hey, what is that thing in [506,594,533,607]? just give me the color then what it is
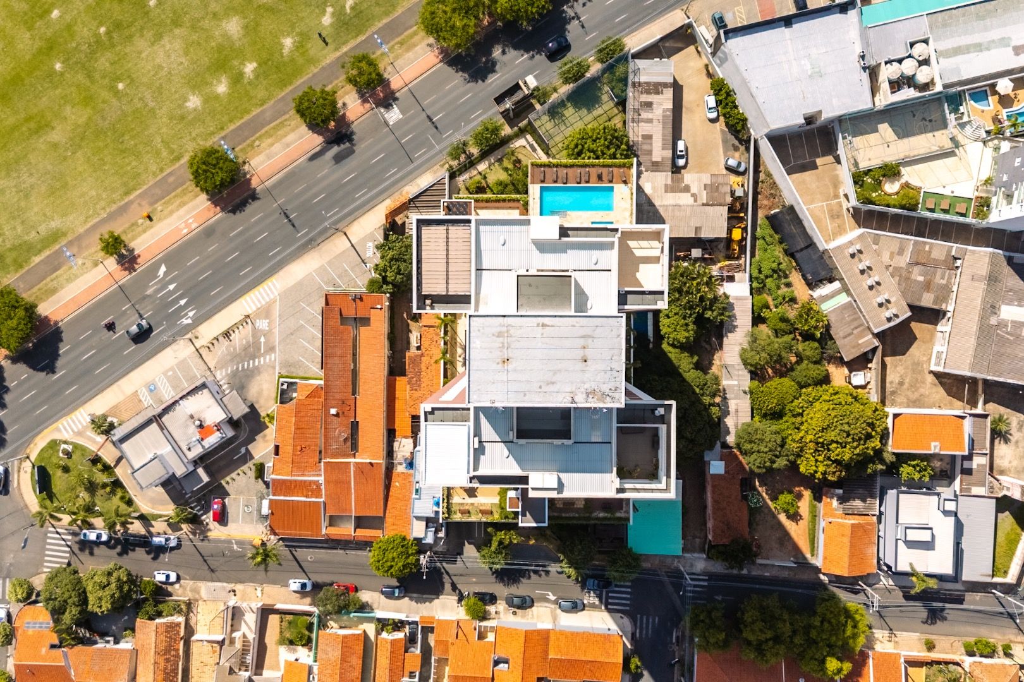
gray vehicle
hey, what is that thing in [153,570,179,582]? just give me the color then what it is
white vehicle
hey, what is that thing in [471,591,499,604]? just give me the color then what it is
black vehicle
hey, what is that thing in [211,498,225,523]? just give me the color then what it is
red car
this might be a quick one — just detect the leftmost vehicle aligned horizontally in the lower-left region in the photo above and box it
[81,529,110,541]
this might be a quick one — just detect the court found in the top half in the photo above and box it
[840,95,956,172]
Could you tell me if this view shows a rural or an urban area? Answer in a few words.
urban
